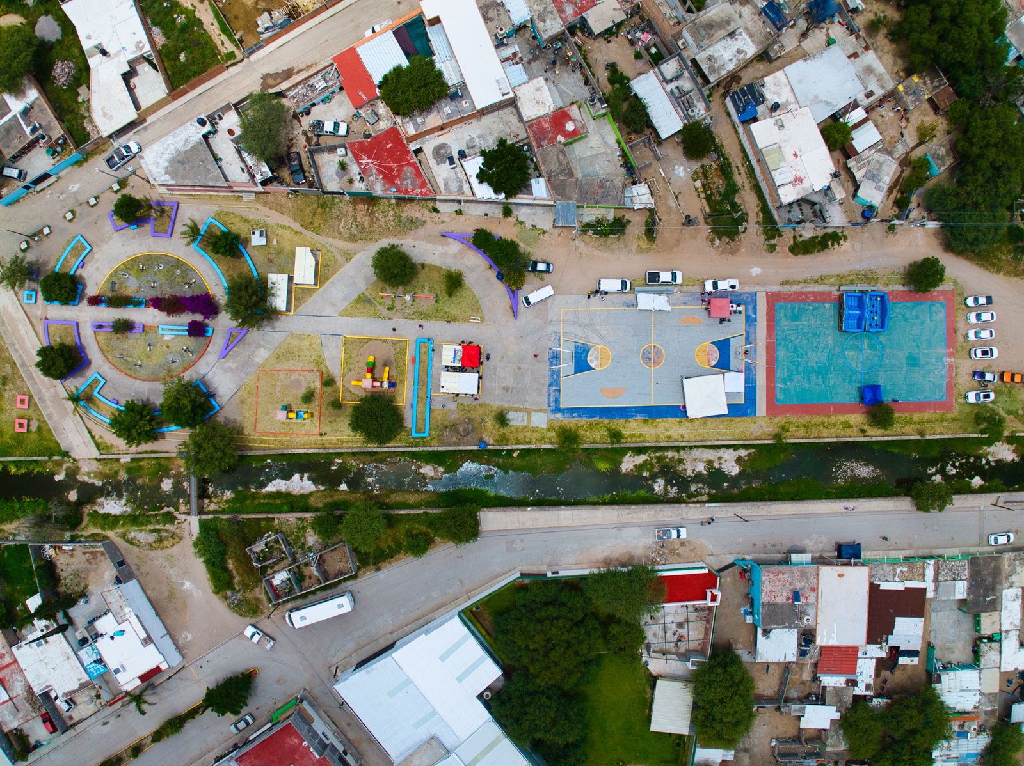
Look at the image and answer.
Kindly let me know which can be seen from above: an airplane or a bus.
bus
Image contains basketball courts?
Yes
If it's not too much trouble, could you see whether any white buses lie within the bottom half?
Yes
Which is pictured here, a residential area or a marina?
residential area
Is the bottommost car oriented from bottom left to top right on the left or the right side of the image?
left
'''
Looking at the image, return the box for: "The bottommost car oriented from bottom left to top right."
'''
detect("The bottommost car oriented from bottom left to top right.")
[229,710,258,734]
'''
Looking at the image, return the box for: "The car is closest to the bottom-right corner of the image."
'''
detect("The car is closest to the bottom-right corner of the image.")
[985,531,1014,547]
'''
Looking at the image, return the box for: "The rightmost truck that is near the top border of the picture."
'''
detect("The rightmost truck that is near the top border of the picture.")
[363,15,394,37]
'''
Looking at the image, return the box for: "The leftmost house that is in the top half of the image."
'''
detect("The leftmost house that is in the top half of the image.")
[0,76,71,166]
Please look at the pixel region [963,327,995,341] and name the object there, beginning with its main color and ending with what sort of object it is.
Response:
white car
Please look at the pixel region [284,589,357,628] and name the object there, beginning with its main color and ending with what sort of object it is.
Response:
white bus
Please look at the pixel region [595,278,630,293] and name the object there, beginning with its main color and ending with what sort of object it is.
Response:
white vehicle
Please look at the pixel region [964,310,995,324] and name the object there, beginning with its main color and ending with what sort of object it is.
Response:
white car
